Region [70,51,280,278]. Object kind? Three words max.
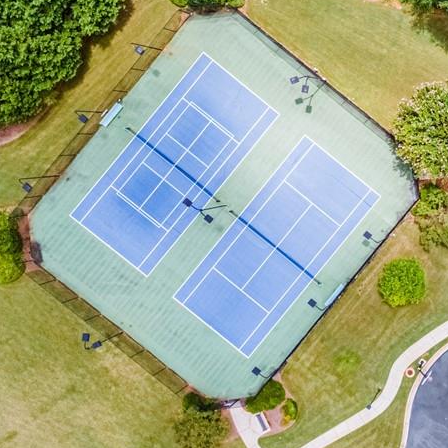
tennis court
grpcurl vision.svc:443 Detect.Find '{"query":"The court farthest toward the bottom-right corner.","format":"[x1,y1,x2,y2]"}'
[174,135,381,359]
